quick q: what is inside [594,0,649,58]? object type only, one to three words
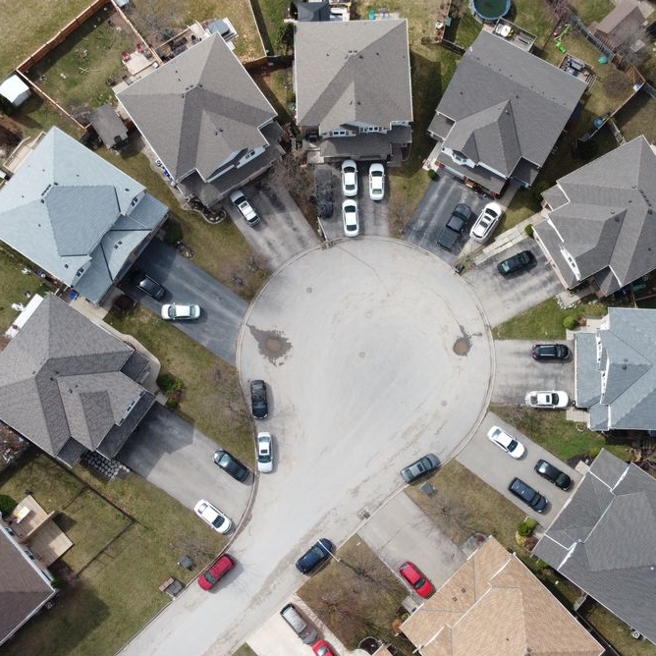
shed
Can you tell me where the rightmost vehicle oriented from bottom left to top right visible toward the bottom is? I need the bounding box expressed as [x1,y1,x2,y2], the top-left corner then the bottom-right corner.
[399,453,440,483]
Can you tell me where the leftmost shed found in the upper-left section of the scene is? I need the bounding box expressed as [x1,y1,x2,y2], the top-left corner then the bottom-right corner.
[0,75,35,112]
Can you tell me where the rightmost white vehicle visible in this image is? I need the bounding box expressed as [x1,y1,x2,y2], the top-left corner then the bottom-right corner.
[526,390,567,409]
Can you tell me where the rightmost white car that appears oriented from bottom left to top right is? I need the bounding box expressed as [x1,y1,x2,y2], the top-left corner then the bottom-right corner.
[471,204,502,242]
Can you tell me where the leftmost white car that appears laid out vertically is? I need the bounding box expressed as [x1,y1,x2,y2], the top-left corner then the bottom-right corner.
[255,432,274,474]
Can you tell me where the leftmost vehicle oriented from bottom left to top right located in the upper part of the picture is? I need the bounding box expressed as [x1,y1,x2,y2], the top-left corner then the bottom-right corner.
[437,205,471,249]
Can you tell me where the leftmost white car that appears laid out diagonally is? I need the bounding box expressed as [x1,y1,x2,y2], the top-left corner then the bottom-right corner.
[192,498,231,535]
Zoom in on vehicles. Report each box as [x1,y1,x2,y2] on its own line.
[229,191,261,227]
[531,342,569,360]
[293,539,334,575]
[526,390,567,409]
[508,478,547,513]
[161,304,200,321]
[342,201,359,236]
[398,560,433,600]
[213,448,250,483]
[192,498,231,535]
[533,458,572,491]
[197,552,236,590]
[437,205,471,249]
[497,251,535,275]
[250,380,268,420]
[487,425,524,459]
[367,166,384,200]
[471,204,502,242]
[399,453,440,483]
[312,640,337,656]
[341,162,358,198]
[255,432,274,474]
[276,601,319,648]
[129,270,167,300]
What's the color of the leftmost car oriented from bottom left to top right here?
red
